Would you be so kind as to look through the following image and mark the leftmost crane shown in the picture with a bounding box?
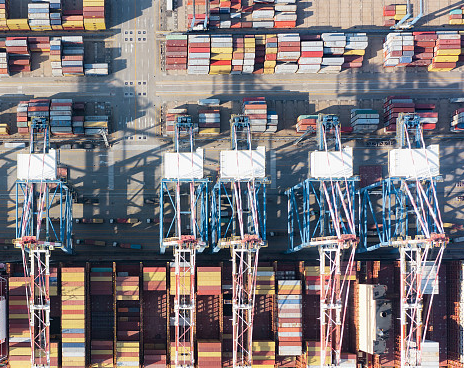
[13,116,77,368]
